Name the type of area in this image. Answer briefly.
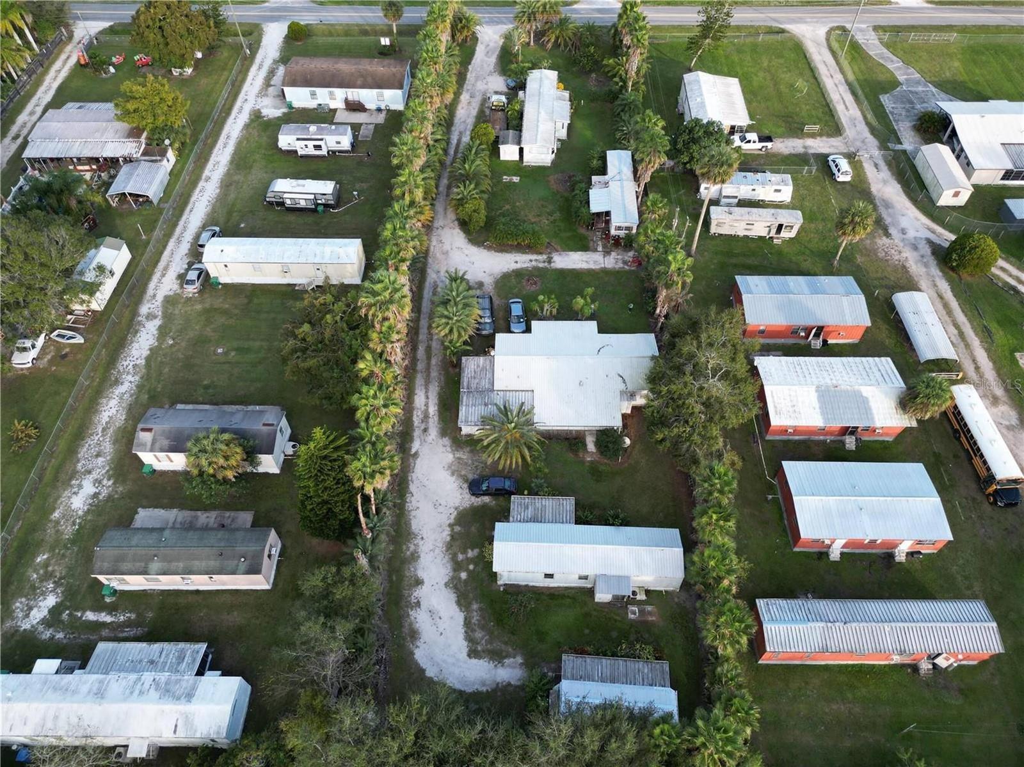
residential area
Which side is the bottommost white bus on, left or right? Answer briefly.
right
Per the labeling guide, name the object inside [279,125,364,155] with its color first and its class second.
white trailer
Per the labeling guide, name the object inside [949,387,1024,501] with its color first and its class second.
white bus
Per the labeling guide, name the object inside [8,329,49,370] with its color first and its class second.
white truck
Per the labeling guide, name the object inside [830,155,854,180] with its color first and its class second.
white car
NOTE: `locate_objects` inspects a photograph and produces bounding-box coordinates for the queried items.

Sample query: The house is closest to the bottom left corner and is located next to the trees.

[0,642,247,760]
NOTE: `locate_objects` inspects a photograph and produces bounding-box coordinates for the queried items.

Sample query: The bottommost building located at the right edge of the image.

[749,599,1003,667]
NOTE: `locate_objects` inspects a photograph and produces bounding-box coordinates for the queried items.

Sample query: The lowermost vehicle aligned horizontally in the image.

[468,474,518,497]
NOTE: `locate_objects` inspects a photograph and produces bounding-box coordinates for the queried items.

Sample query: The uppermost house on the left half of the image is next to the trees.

[282,57,410,109]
